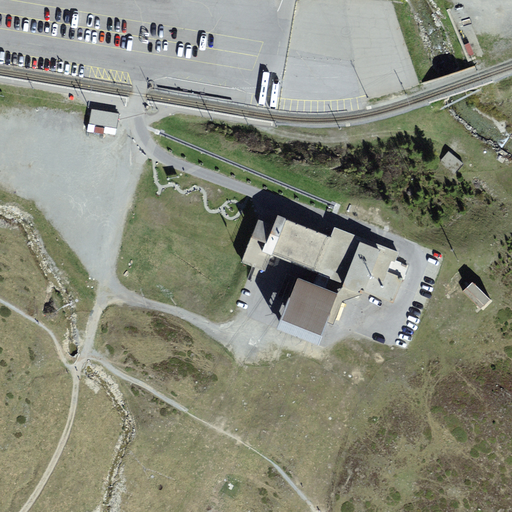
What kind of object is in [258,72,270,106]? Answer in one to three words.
vehicle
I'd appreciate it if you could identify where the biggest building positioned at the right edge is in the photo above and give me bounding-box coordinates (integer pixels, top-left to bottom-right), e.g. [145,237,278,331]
[462,282,492,314]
